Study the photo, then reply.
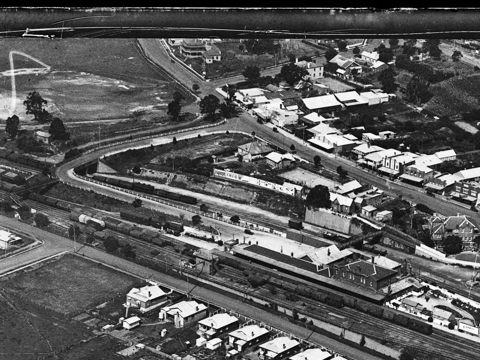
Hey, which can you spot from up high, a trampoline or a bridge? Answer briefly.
bridge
